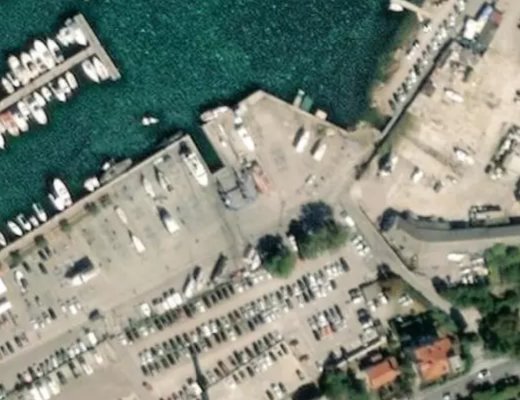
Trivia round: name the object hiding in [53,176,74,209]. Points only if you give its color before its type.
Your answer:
white boat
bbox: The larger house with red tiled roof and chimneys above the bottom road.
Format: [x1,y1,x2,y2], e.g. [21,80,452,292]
[414,341,460,380]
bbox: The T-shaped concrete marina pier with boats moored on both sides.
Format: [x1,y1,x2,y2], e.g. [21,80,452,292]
[0,14,120,111]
